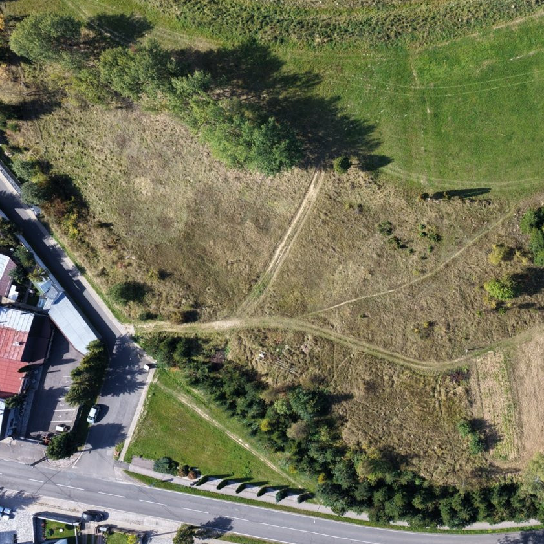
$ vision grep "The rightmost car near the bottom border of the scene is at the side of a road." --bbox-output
[81,511,103,523]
